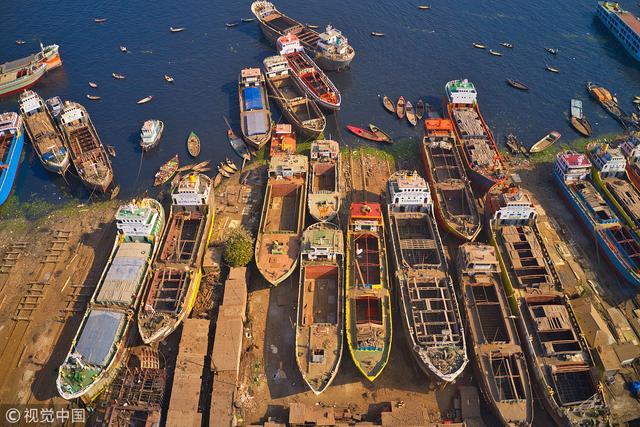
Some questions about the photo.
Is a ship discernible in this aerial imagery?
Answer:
Yes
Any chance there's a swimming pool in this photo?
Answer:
No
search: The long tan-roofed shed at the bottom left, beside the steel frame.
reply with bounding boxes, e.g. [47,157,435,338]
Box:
[162,318,212,427]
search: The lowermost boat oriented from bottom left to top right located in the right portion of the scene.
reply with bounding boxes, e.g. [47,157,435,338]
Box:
[530,129,564,152]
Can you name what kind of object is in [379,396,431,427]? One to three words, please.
shed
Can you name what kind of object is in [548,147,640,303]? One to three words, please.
ship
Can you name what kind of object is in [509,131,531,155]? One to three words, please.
boat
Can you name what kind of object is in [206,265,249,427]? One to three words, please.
shed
